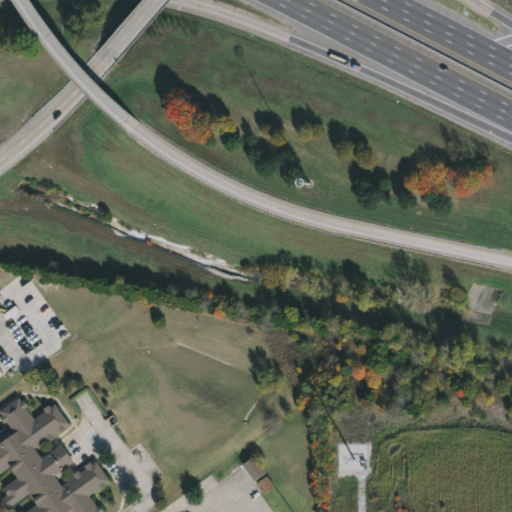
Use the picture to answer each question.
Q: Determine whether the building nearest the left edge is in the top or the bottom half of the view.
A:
bottom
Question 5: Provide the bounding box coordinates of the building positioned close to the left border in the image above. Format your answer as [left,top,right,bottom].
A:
[0,393,112,512]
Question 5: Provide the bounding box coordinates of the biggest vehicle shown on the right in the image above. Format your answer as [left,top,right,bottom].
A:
[328,52,362,70]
